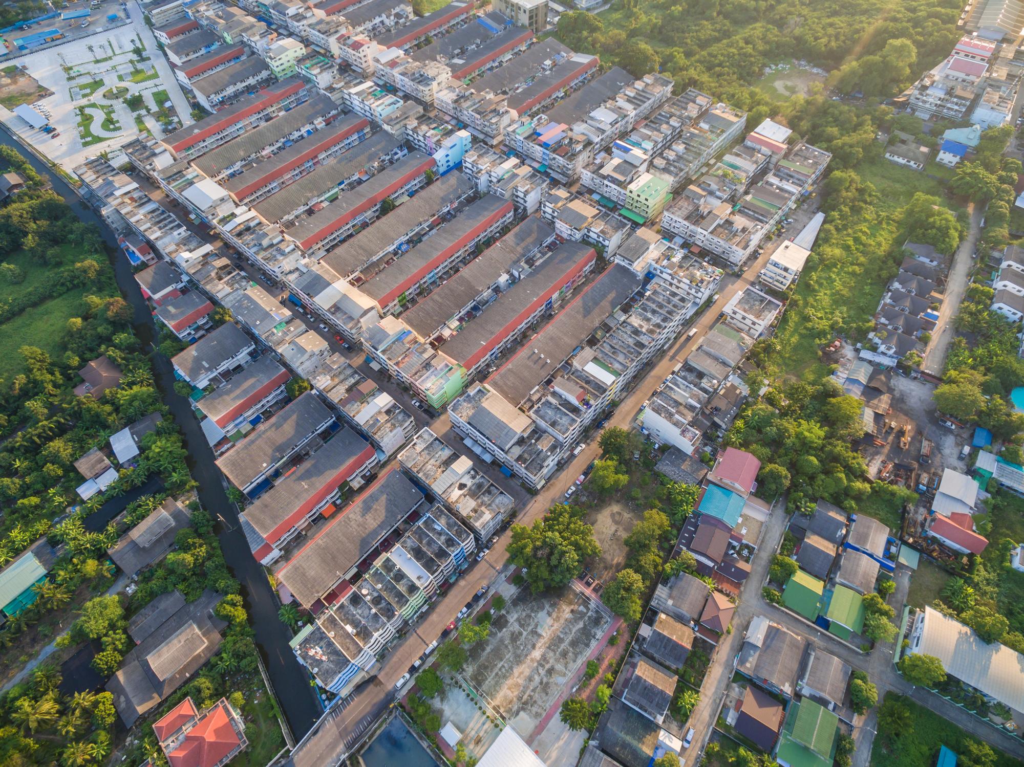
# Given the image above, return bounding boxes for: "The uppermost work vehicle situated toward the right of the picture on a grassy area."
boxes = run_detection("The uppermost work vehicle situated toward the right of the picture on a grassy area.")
[828,334,845,350]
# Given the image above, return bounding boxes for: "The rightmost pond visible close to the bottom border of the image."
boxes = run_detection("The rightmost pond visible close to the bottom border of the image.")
[362,715,440,767]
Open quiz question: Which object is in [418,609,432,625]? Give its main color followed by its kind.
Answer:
gray car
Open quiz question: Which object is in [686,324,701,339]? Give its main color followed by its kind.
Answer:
white vehicle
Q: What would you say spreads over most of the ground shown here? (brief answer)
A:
buildings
